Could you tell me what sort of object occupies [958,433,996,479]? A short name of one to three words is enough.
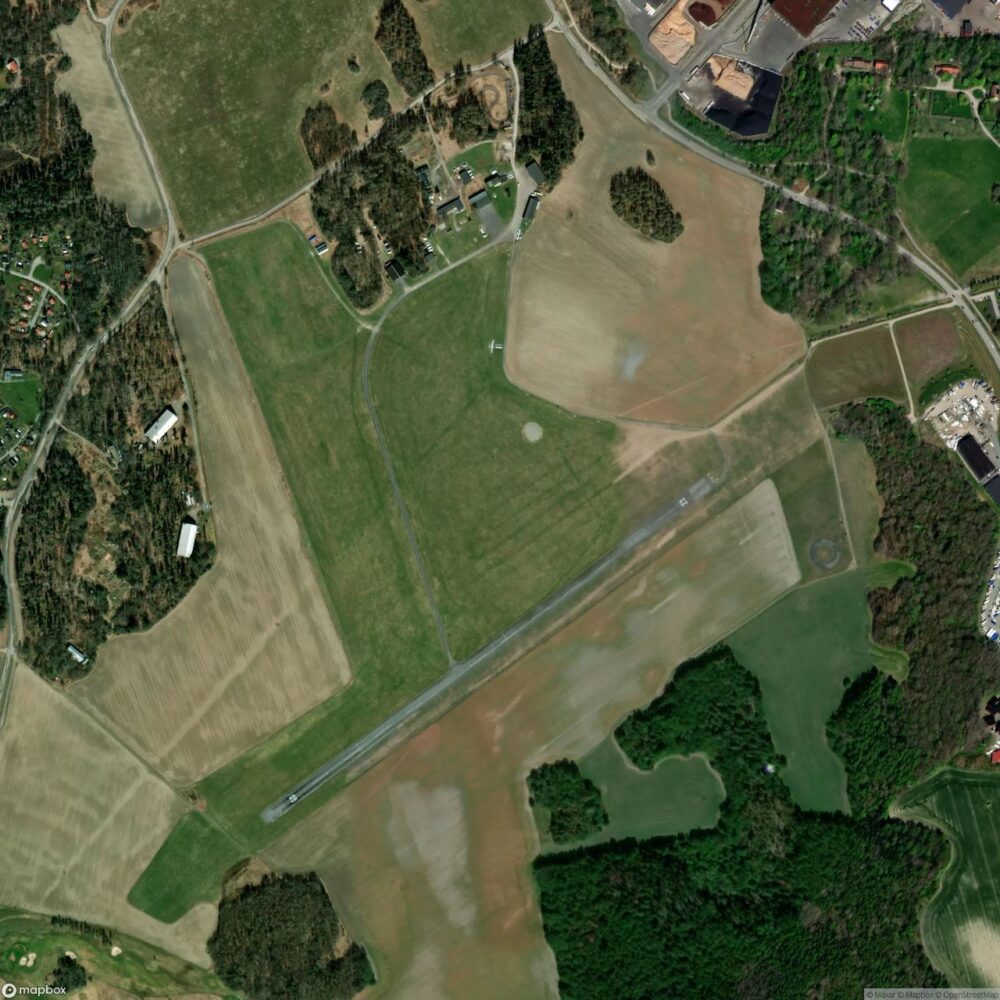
building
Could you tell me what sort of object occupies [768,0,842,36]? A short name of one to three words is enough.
building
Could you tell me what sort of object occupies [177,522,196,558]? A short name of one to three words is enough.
barn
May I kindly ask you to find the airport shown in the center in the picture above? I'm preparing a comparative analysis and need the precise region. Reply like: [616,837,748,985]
[192,204,855,860]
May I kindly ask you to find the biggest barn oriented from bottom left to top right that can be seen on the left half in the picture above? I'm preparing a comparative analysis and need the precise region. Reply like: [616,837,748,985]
[145,409,178,443]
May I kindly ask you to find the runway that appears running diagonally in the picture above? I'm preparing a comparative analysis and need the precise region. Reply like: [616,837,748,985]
[264,472,722,820]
